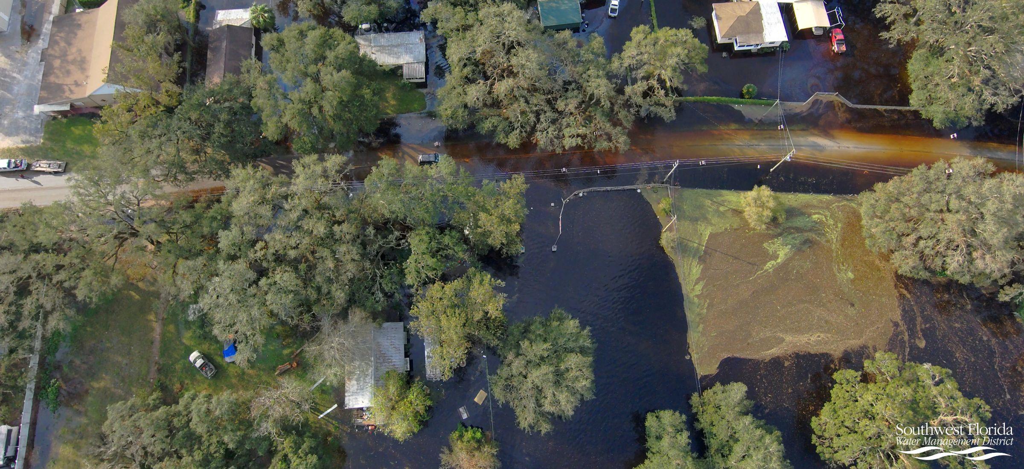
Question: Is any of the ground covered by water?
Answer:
Yes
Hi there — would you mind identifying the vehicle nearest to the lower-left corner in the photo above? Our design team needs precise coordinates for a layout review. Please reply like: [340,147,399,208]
[190,348,218,382]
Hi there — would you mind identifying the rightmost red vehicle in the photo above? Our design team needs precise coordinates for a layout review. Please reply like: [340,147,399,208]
[830,27,849,57]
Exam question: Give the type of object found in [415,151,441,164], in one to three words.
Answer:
vehicle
